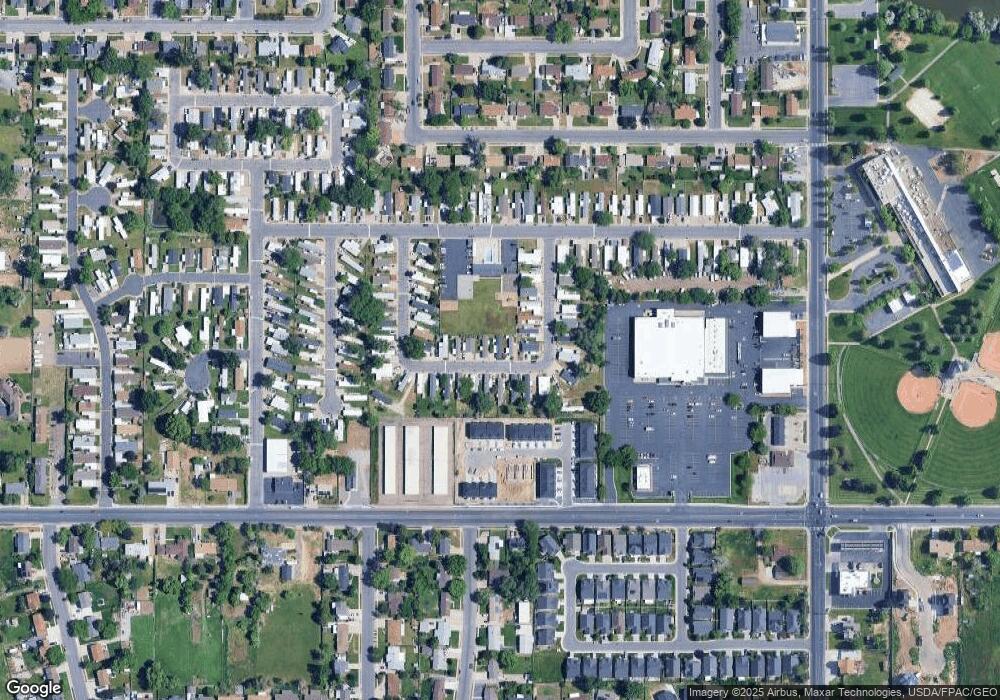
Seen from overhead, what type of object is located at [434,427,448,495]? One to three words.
building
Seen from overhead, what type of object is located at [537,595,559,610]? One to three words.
house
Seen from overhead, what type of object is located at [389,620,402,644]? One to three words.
house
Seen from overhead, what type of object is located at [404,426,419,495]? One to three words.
building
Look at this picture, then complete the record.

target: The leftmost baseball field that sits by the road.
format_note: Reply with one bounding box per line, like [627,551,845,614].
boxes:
[840,345,946,472]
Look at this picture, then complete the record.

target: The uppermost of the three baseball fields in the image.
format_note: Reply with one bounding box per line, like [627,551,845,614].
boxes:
[979,305,1000,375]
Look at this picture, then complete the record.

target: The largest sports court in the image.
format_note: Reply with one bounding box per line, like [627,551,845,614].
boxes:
[906,88,949,128]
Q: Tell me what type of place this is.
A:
residential area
